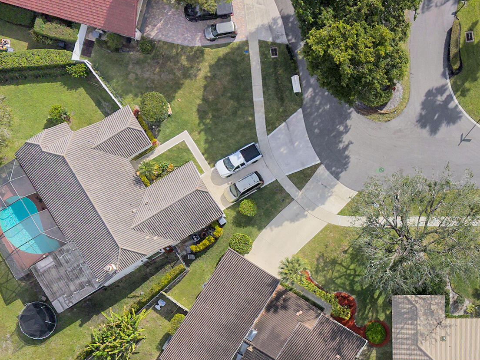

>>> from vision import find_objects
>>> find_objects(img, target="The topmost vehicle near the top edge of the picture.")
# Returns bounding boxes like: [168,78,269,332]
[184,2,234,23]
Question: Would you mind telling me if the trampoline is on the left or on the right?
left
